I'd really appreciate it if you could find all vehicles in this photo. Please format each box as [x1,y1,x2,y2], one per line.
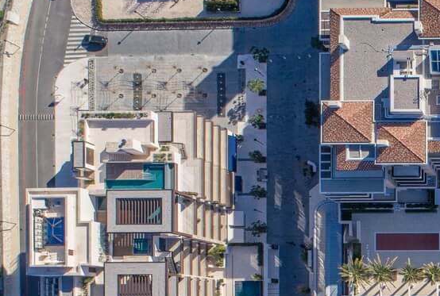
[80,32,107,46]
